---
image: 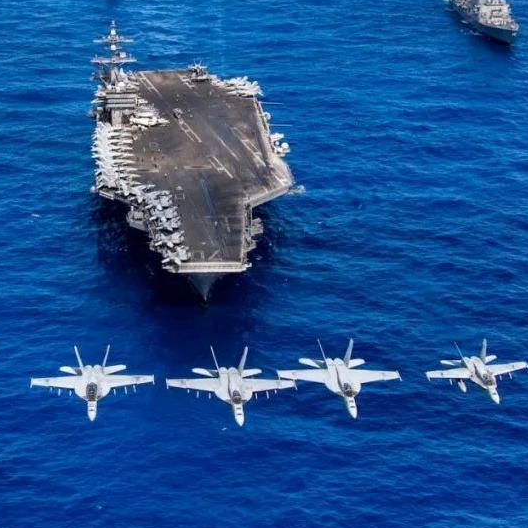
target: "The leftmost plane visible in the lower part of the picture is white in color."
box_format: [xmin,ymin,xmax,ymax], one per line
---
[31,343,154,420]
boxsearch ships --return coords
[455,0,520,47]
[84,20,309,304]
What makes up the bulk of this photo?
water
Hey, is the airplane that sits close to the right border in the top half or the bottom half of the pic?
bottom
